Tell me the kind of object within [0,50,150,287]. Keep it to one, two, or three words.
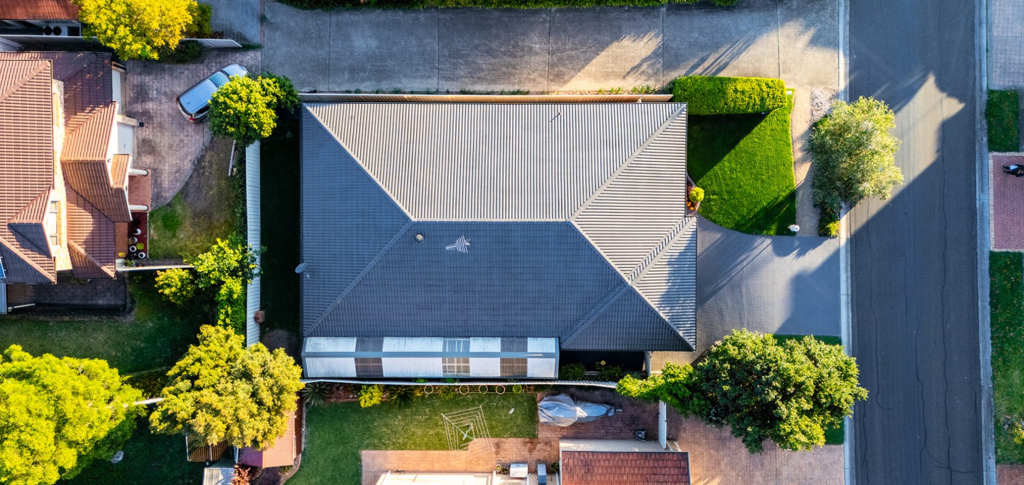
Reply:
house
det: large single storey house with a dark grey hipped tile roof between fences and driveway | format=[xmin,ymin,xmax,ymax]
[301,100,699,354]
